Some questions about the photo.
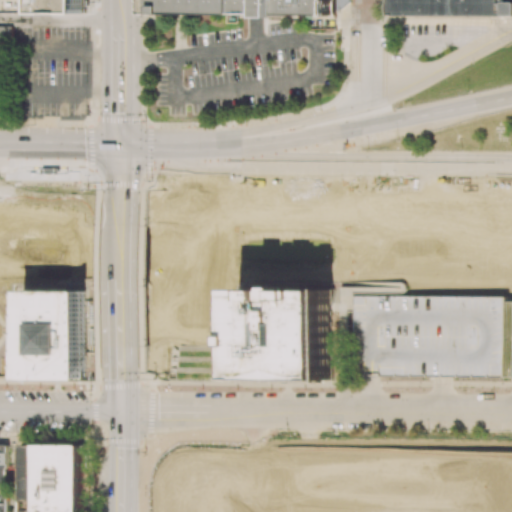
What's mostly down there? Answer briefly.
paved ground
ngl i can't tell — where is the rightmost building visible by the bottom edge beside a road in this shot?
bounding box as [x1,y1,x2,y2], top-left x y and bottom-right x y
[16,444,82,512]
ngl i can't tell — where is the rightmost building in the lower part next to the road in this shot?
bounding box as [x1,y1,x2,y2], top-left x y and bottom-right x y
[345,284,512,376]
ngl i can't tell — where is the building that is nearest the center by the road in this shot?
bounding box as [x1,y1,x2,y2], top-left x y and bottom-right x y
[208,287,340,382]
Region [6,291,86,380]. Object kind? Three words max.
building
